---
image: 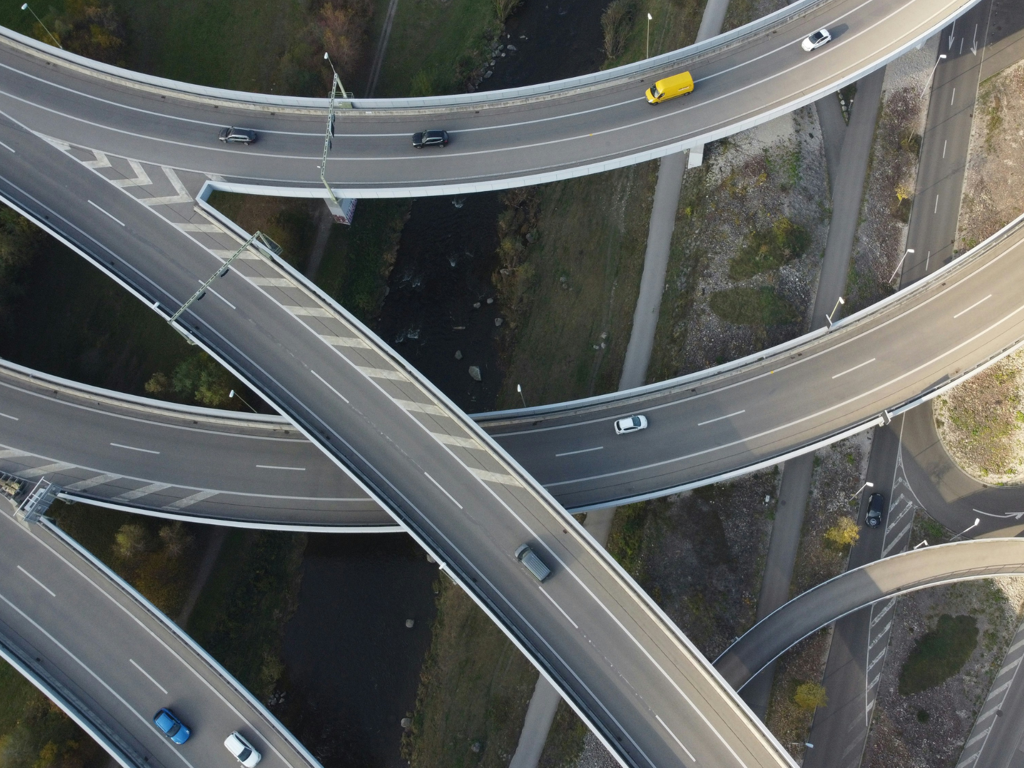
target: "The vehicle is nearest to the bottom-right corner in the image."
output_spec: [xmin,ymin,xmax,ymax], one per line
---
[866,493,884,528]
